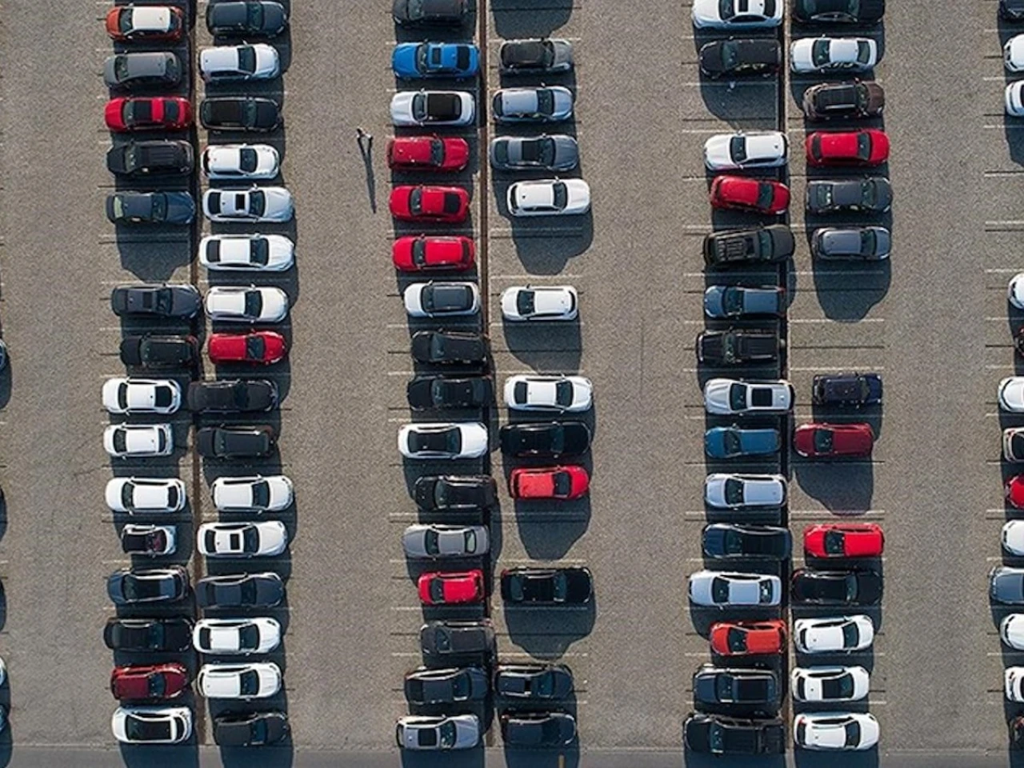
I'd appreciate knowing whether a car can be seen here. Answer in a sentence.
Yes, looking at the shot, I can spot a car.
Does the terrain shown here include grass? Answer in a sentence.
No, grass can't be seen anywhere here.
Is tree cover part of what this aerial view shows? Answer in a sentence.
No, there's no tree cover in this view.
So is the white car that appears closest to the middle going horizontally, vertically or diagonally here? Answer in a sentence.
I'd say the white car that appears closest to the middle is aligned horizontally in the picture.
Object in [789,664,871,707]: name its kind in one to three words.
car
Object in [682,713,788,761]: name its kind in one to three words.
truck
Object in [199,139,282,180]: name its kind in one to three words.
car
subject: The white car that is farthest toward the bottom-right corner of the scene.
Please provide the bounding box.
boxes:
[1001,664,1024,703]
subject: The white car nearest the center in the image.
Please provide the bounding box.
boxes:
[503,374,594,414]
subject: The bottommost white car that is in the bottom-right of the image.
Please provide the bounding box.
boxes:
[792,712,881,757]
